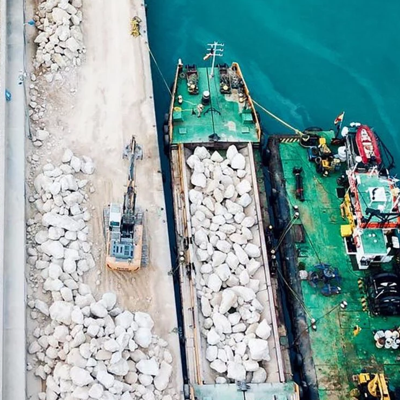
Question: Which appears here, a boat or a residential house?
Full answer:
I can see a boat in this picture.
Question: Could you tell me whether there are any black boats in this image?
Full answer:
No, no black boat is visible in the scene.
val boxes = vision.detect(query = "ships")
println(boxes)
[163,48,305,400]
[263,119,400,400]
